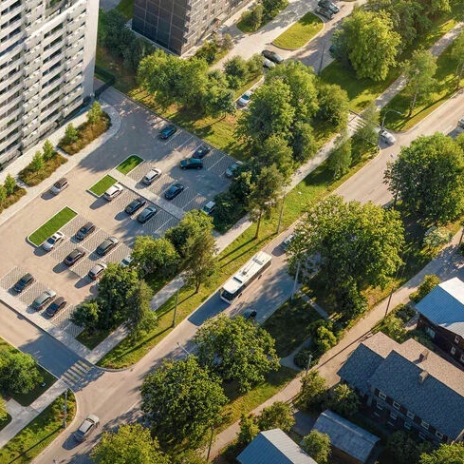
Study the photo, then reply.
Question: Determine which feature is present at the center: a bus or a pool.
bus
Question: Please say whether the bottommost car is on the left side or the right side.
left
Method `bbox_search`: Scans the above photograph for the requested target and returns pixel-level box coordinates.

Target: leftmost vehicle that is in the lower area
[11,273,37,294]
